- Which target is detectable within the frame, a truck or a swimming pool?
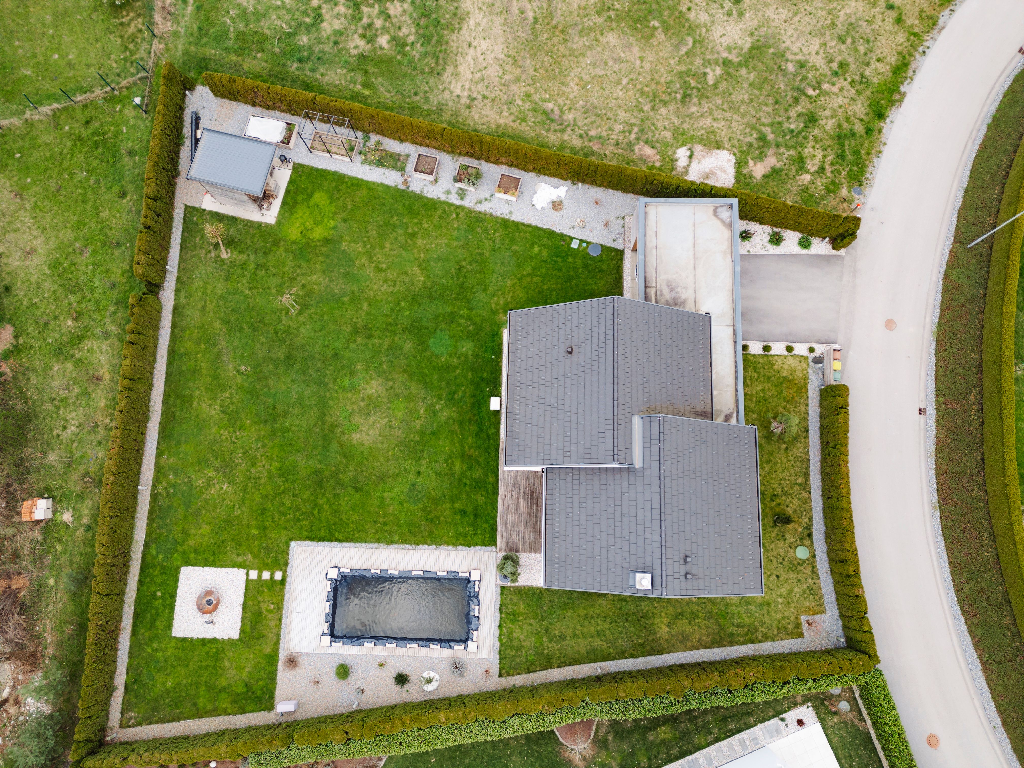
swimming pool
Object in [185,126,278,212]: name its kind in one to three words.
shed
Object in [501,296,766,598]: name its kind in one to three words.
house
